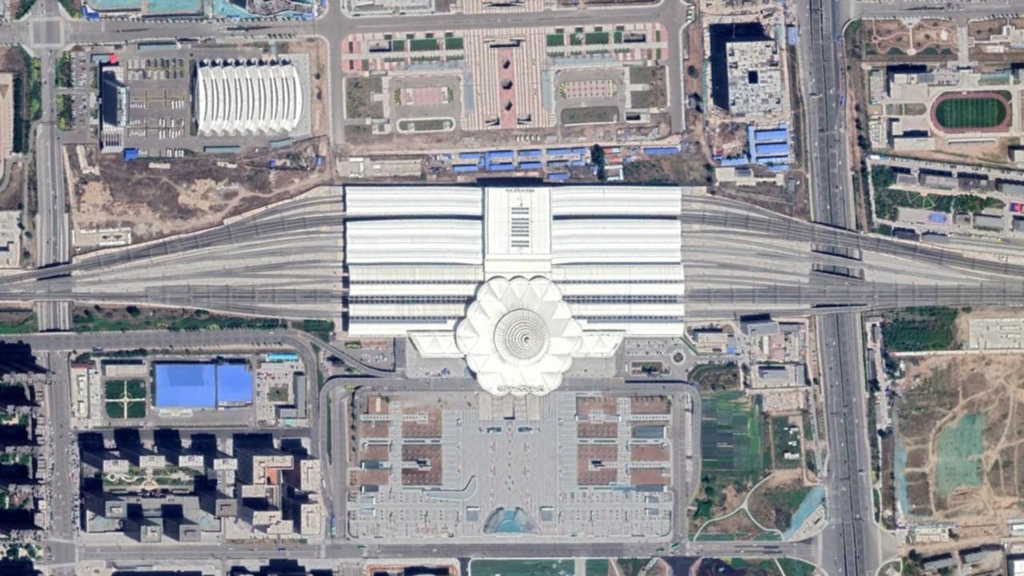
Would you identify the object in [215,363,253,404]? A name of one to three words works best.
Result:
building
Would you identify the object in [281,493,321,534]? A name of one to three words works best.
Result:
building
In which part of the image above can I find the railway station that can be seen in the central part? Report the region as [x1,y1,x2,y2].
[327,183,693,397]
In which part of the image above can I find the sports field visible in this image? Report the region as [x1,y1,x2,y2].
[936,97,1006,128]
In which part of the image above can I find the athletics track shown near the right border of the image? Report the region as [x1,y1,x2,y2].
[930,90,1012,135]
